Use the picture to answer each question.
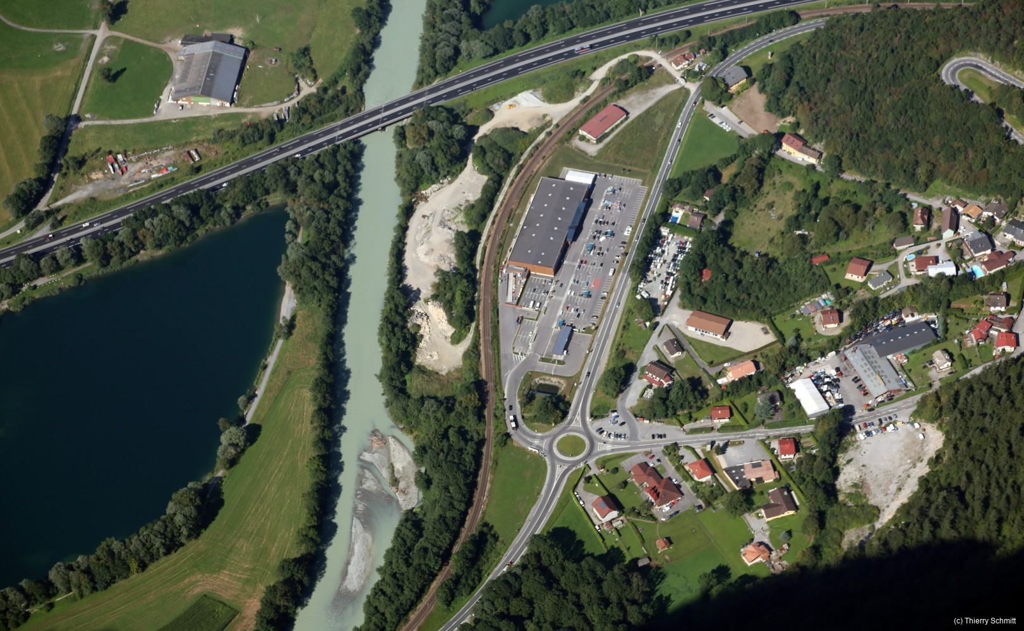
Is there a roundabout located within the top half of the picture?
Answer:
No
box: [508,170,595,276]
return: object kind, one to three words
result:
building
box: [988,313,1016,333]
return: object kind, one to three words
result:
house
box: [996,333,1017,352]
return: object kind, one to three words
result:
house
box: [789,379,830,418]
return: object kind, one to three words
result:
building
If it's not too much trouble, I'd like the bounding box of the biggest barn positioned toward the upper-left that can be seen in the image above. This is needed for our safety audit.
[170,43,246,107]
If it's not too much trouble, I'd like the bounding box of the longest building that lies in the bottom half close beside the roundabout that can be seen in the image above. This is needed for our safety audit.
[630,463,682,510]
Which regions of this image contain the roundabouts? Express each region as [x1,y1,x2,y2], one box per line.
[529,406,628,479]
